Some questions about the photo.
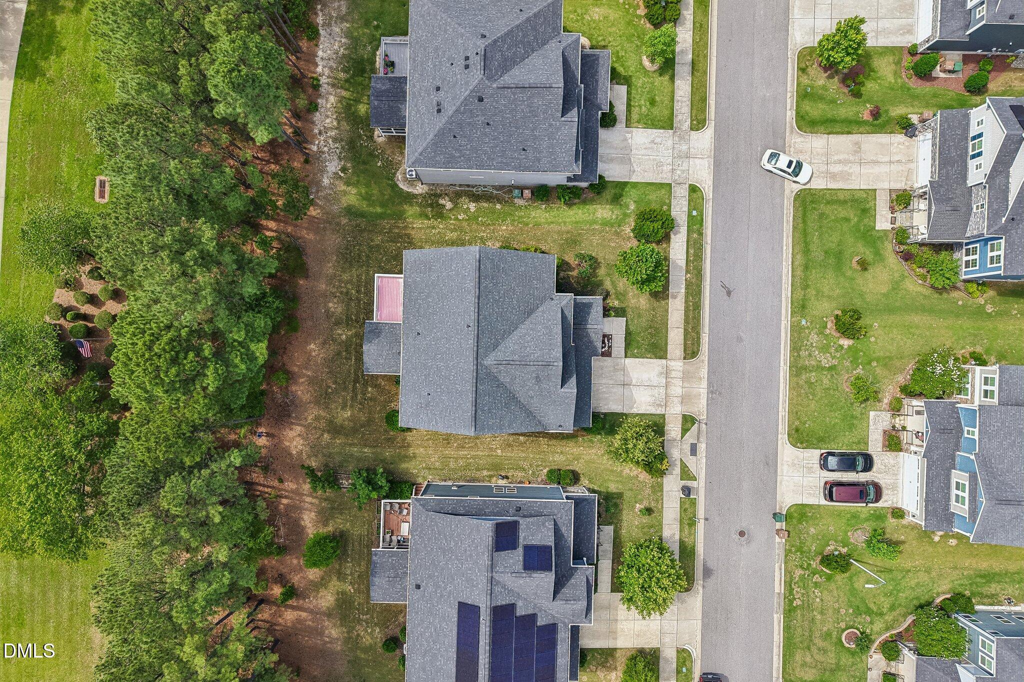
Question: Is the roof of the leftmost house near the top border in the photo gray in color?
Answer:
Yes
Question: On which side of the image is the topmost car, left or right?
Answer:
right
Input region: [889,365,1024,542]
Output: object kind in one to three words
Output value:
house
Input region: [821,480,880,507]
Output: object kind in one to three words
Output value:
car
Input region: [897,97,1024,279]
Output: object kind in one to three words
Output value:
house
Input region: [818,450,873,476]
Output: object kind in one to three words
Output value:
car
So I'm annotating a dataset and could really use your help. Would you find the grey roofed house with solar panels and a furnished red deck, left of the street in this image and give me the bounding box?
[370,483,598,682]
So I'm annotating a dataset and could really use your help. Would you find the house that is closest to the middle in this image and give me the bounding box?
[363,246,603,435]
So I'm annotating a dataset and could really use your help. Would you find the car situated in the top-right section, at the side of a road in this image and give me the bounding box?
[758,147,814,187]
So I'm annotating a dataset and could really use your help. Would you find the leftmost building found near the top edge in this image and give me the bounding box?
[369,0,611,187]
